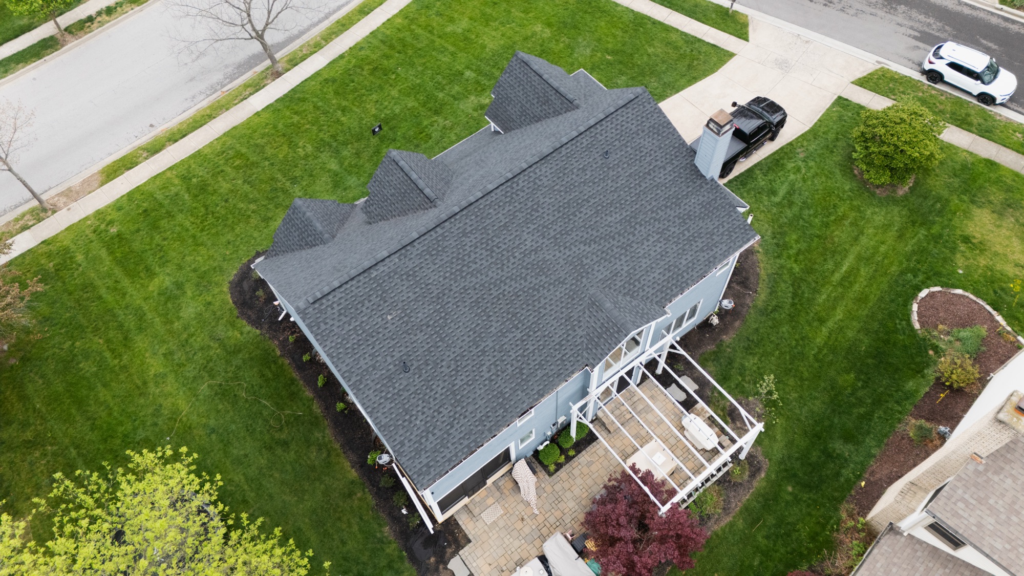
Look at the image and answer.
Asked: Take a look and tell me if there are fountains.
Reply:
No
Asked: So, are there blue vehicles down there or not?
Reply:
No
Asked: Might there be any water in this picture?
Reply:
No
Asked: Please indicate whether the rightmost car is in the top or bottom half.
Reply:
top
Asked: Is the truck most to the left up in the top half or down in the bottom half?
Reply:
top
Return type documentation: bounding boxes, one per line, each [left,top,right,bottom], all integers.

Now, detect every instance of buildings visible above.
[243,51,762,526]
[842,349,1024,576]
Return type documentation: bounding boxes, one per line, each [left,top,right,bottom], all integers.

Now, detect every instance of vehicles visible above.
[720,95,795,176]
[920,42,1018,106]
